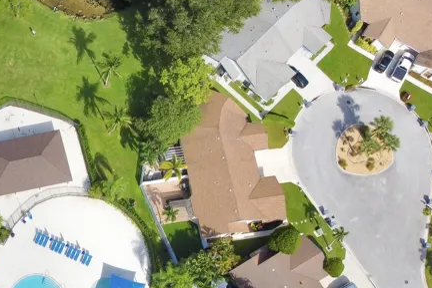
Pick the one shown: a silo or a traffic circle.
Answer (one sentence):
Of the two, only a traffic circle appears.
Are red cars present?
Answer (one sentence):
No, there's no red car here.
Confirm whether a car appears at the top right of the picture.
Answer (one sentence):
Yes, a car is visible at the top right of the picture.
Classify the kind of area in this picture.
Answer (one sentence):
What you see here is a residential area.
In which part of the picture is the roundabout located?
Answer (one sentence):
The roundabout appears toward the right of the photo.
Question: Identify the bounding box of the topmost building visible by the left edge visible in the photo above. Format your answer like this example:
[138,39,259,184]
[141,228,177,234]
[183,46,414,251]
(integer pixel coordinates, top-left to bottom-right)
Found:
[0,130,71,196]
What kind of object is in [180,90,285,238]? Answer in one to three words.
house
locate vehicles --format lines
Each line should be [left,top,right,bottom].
[373,49,396,72]
[290,62,312,89]
[388,52,415,78]
[342,281,360,288]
